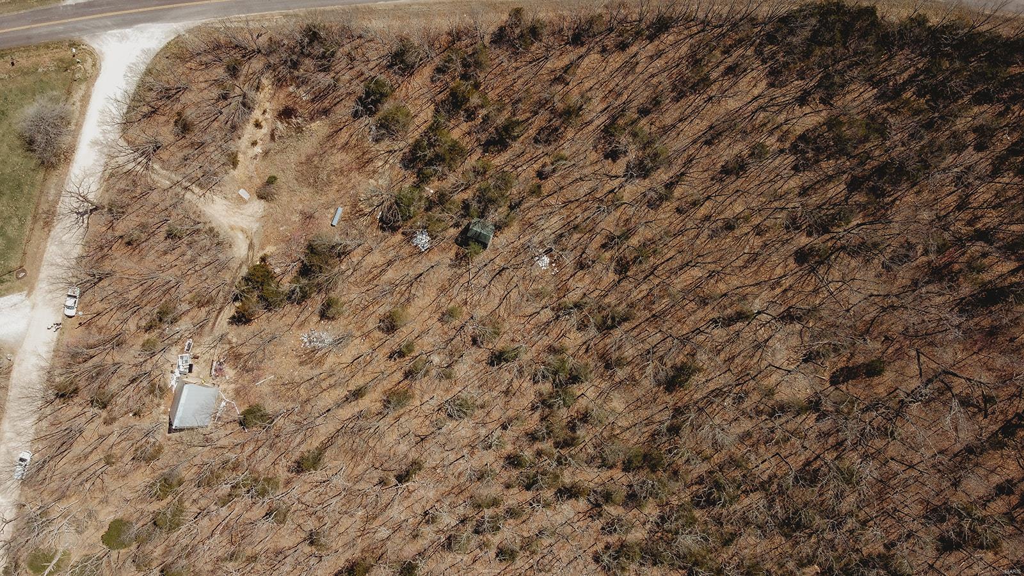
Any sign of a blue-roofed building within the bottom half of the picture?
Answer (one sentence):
No, no blue-roofed building appears within the bottom half of the picture.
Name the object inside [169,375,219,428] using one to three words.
house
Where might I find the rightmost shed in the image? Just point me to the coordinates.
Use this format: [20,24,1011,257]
[468,218,496,245]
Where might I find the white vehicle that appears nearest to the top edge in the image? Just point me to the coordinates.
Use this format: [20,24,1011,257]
[64,286,82,318]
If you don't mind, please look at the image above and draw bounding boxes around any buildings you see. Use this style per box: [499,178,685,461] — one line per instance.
[468,218,496,245]
[169,375,219,428]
